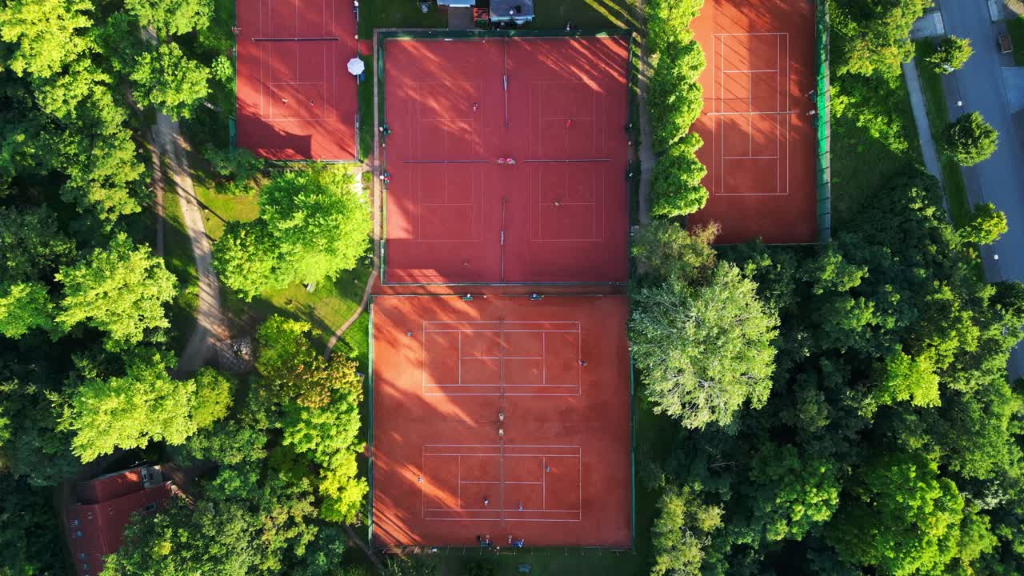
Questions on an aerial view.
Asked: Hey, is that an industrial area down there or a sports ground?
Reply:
sports ground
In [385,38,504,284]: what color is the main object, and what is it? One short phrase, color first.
red tennis court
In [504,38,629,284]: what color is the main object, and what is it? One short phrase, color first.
red tennis court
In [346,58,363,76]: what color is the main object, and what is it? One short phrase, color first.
white umbrella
